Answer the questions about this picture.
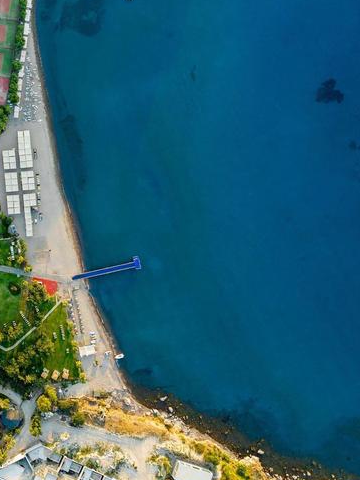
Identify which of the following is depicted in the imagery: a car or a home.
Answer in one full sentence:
The one in the frame is a home.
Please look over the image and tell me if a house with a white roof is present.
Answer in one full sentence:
Yes, the image includes a house with a white roof.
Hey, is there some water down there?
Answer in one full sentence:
Yes, the picture does contain water.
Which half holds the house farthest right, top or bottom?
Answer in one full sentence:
It is in the bottom half that the house farthest right appears.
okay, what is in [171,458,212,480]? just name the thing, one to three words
house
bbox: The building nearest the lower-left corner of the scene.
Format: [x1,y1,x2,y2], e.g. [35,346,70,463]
[0,456,25,480]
